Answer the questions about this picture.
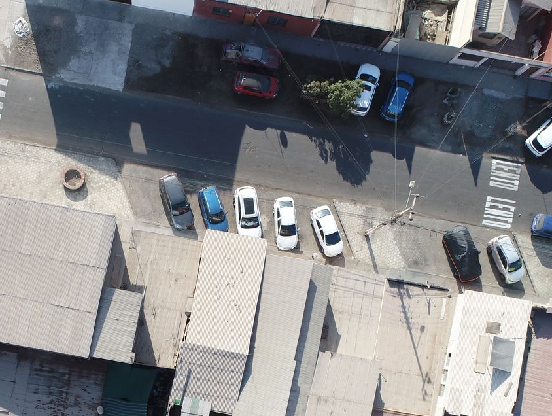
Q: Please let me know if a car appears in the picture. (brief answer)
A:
Yes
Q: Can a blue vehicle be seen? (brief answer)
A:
Yes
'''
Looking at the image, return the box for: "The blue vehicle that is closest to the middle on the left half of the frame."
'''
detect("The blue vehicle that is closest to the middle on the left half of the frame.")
[196,185,229,232]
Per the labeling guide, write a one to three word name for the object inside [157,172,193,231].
car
